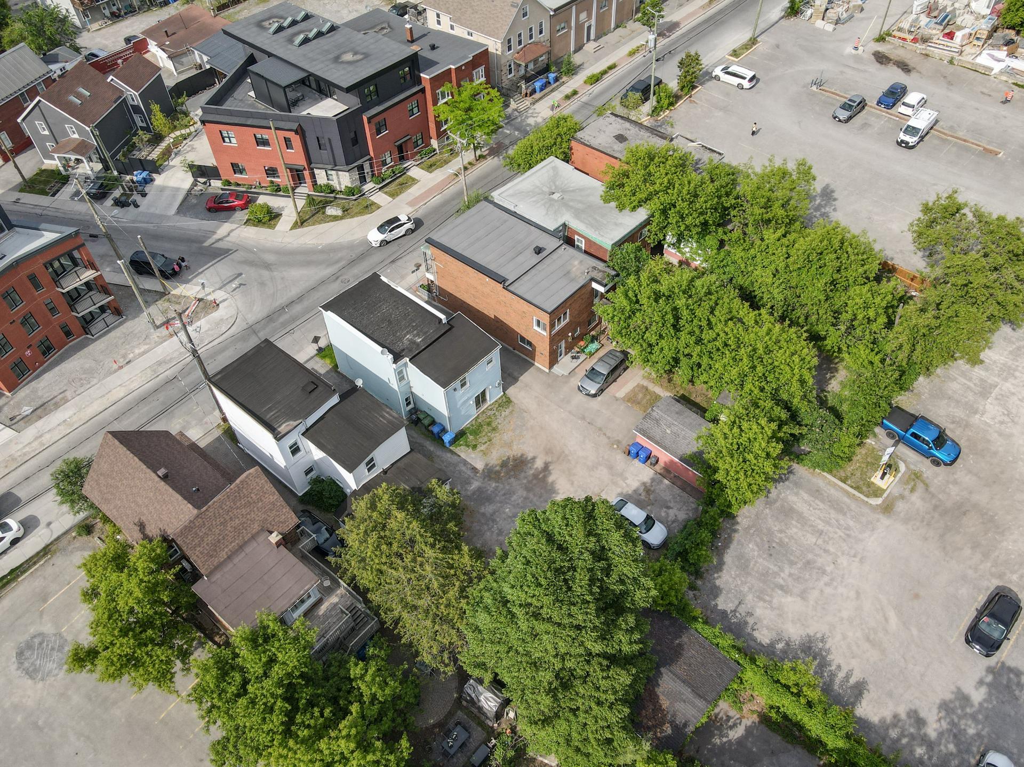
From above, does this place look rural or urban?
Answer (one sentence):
From above, the setting appears urban.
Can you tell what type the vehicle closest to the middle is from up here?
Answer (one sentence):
Looking closely, the vehicle closest to the middle is an automobile.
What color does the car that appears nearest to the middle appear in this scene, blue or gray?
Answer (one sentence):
The car that appears nearest to the middle looks gray in the image.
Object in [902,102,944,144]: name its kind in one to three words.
van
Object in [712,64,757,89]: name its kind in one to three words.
car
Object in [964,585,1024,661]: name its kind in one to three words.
car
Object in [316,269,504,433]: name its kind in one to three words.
house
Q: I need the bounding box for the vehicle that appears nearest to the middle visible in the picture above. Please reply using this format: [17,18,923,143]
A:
[581,344,637,398]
